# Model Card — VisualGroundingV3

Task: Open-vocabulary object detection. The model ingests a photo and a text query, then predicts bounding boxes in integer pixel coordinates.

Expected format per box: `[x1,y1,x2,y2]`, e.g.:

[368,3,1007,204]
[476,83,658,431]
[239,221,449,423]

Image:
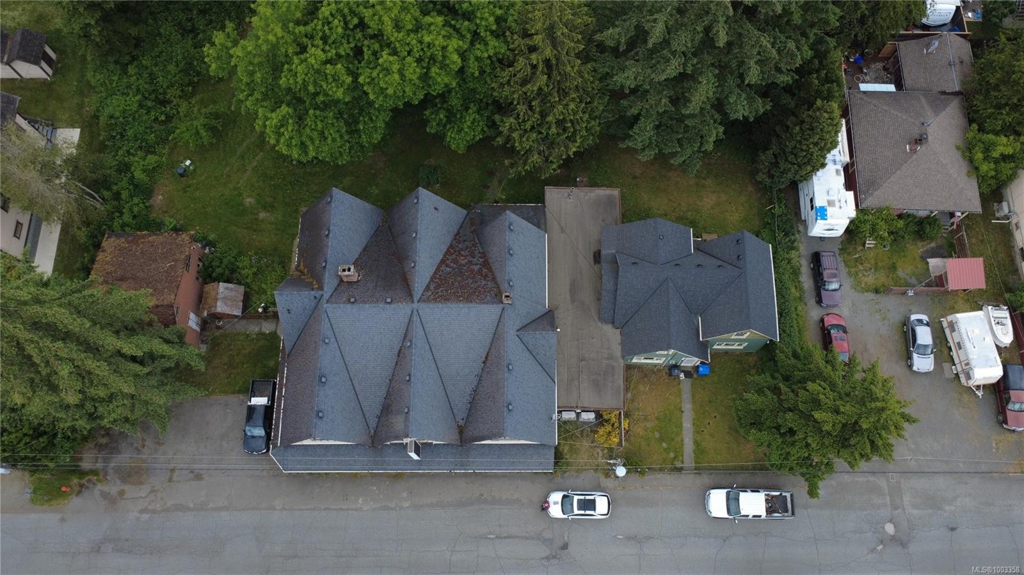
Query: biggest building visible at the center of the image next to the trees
[269,187,561,474]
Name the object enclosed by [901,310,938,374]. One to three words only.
car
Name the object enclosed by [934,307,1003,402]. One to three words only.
trailer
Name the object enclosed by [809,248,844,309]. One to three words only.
car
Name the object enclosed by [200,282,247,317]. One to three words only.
shed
